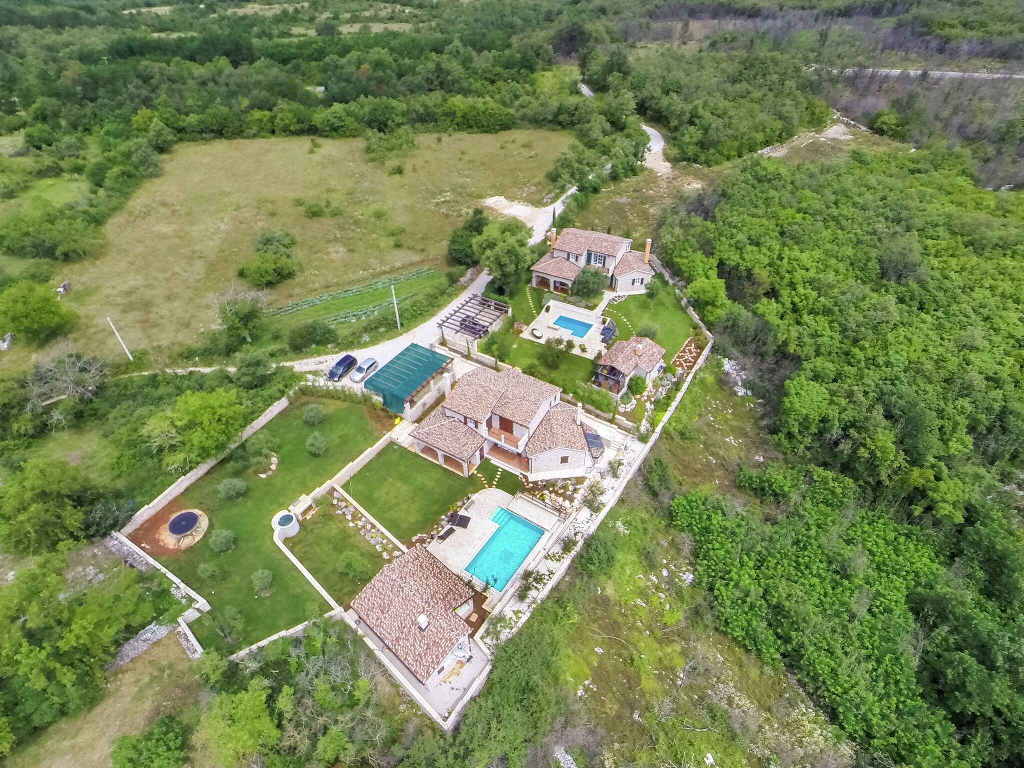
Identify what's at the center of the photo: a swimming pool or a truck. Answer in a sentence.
Looking at the center of the photo, you will find a swimming pool.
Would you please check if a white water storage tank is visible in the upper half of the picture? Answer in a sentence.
No, there is no white water storage tank in the upper half of the picture.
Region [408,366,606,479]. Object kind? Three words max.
house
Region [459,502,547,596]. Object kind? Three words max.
swimming pool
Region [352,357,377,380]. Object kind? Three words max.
car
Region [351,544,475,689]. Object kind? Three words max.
building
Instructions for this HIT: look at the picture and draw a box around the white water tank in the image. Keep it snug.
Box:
[272,510,298,538]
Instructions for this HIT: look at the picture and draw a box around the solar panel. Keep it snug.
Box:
[582,427,603,445]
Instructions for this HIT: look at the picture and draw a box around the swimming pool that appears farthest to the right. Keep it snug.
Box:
[550,313,596,340]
